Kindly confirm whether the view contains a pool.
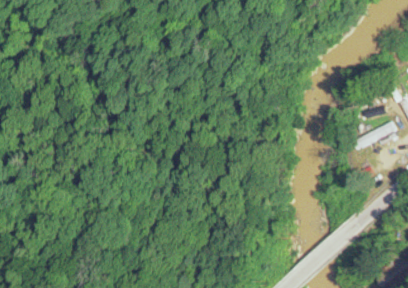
No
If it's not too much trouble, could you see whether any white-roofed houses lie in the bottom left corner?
No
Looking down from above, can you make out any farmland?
No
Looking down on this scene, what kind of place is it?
forest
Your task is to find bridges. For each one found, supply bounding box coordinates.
[276,217,364,288]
